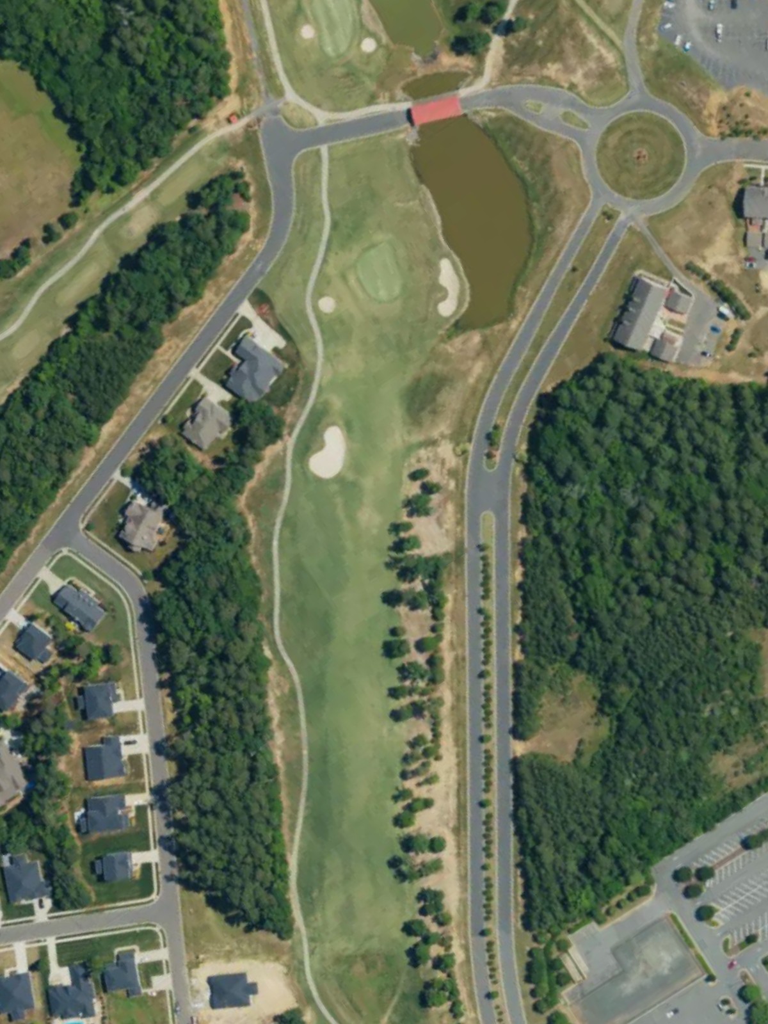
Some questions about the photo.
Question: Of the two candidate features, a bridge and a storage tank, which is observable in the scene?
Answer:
bridge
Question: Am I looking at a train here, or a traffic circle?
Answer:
traffic circle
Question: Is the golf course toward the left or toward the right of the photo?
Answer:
left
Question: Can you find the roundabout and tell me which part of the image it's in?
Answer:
top right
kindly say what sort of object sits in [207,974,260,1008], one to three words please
house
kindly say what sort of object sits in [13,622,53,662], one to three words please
house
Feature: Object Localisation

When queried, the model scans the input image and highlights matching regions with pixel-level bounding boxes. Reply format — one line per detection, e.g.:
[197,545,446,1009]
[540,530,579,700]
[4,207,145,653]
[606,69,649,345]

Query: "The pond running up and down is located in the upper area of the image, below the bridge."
[412,114,531,330]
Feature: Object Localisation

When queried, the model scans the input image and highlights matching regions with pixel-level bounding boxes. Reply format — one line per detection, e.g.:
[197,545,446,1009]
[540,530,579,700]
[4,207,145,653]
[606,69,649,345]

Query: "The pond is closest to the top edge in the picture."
[368,0,442,56]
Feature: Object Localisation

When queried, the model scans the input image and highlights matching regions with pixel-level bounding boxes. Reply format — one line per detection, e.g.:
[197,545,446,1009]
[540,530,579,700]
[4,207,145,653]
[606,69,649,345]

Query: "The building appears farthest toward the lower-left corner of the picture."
[0,972,36,1021]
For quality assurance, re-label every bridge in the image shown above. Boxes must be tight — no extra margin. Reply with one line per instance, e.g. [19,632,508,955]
[409,89,463,127]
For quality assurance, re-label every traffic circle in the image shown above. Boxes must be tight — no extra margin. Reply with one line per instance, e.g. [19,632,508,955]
[583,98,699,213]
